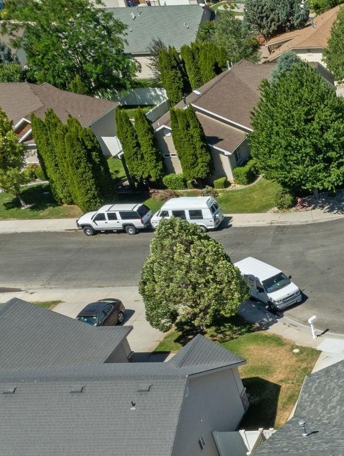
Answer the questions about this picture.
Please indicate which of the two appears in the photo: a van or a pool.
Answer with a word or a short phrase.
van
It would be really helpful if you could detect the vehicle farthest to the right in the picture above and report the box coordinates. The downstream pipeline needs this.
[233,255,301,309]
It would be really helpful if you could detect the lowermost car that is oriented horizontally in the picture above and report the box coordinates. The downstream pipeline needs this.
[70,294,134,320]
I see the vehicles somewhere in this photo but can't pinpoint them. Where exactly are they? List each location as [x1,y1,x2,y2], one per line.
[150,196,224,232]
[233,255,301,309]
[70,294,134,320]
[71,203,152,236]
